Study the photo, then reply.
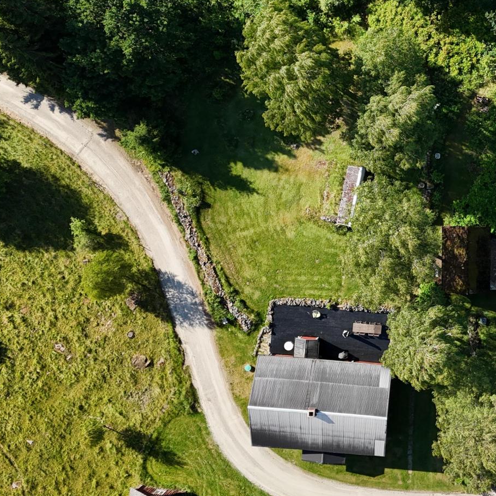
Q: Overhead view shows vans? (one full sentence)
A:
No, I can see no van in this picture.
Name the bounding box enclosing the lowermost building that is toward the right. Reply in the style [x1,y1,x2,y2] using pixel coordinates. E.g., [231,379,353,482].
[247,335,393,468]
